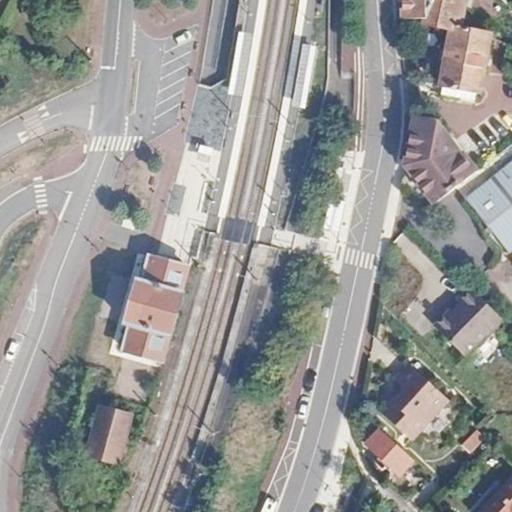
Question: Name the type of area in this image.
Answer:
residential area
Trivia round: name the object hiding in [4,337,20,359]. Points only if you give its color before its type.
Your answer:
white car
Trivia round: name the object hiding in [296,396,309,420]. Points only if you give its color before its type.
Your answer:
white vehicle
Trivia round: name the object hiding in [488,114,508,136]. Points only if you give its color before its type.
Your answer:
gray car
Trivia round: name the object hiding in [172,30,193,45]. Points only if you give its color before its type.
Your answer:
white car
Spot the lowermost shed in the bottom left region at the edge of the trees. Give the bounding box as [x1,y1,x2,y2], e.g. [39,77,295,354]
[88,406,134,464]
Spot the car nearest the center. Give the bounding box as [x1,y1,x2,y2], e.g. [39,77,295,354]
[302,368,316,390]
